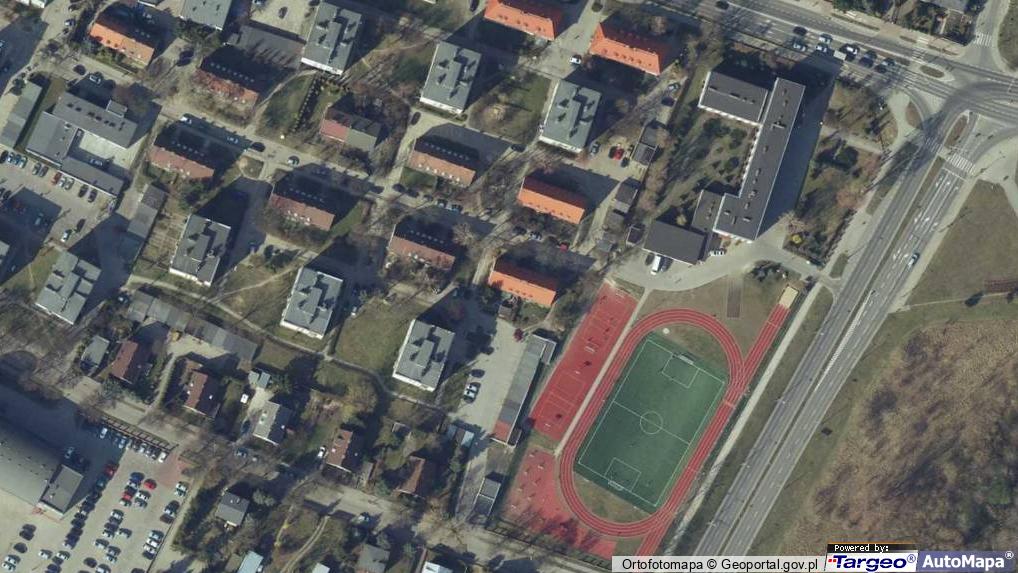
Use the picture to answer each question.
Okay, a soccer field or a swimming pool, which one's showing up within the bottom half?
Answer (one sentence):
It is a soccer field that can be seen within the bottom half.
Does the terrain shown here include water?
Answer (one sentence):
No, the scene doesn't show any water.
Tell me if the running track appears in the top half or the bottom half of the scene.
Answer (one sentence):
The running track sits in the bottom half of the picture.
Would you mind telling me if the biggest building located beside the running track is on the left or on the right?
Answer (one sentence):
The biggest building located beside the running track is on the right side of the image.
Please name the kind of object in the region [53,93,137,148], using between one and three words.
building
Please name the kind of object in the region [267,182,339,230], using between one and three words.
house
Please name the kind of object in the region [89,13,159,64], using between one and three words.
house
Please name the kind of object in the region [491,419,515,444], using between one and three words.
building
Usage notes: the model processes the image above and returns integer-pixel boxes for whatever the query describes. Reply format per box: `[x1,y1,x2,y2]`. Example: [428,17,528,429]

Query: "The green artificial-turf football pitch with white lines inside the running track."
[573,331,730,514]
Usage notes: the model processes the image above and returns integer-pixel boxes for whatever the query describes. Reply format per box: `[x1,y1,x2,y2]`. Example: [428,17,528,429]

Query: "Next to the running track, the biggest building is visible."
[713,78,805,245]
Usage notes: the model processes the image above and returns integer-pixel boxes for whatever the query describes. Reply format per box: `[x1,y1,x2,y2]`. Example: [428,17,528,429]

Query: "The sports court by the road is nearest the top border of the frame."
[532,282,638,440]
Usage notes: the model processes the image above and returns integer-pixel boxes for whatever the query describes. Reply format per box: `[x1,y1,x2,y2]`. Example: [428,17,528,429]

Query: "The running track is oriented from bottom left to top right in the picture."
[559,303,788,573]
